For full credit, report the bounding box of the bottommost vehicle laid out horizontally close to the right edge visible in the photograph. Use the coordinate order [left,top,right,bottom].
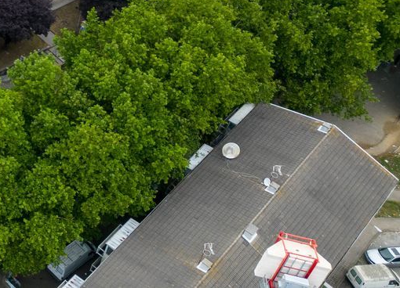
[343,263,400,288]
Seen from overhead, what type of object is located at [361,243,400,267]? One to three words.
car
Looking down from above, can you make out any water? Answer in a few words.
No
